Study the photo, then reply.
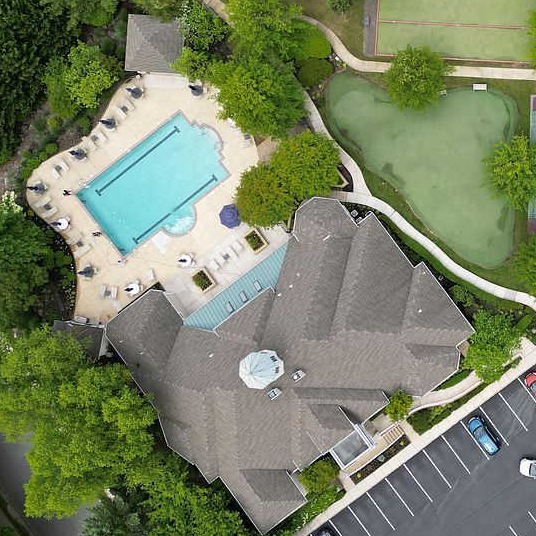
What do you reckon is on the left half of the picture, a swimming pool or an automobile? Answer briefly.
swimming pool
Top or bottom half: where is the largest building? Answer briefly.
bottom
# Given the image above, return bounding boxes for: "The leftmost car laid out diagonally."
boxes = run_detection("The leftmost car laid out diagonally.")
[466,412,503,455]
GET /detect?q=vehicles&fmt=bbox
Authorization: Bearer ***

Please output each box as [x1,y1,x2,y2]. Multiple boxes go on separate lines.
[466,412,503,455]
[313,527,335,536]
[523,370,536,397]
[518,455,536,479]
